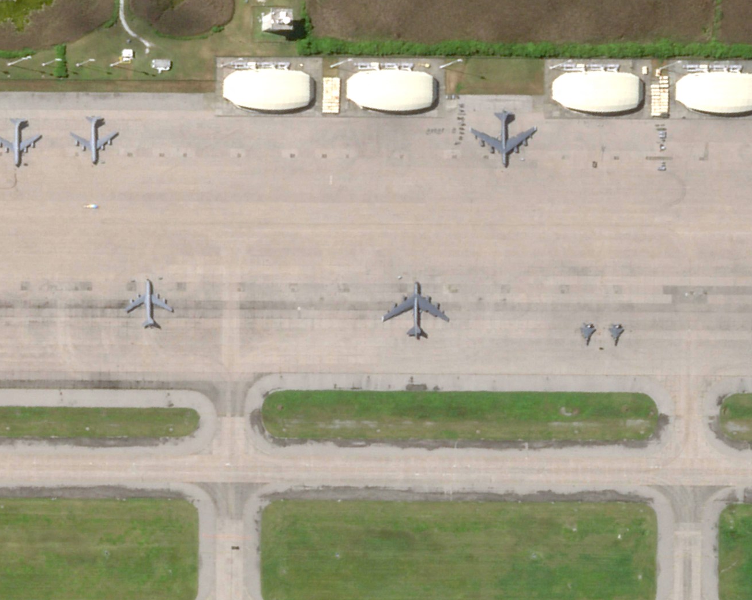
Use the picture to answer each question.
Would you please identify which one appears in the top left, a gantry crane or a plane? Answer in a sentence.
It is a plane that can be seen in the top left.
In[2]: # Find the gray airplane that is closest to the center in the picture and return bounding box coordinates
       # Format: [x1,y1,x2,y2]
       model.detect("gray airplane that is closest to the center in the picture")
[383,282,450,336]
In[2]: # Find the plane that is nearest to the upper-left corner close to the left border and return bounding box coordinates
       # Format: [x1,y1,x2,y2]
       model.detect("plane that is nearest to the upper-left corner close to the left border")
[0,117,41,166]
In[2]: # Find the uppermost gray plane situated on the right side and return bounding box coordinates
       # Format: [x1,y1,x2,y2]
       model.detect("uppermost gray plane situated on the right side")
[472,109,538,165]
